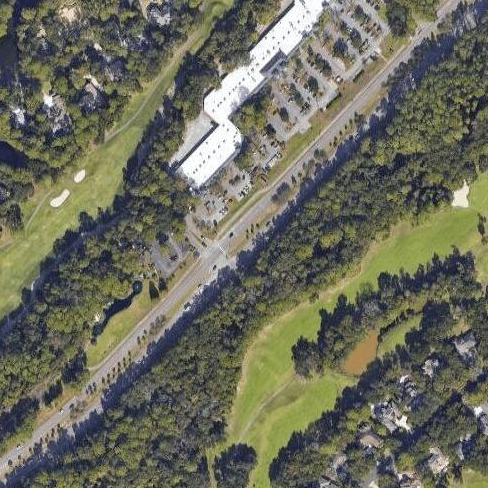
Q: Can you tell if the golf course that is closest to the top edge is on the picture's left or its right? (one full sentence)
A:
The golf course that is closest to the top edge appears in the left half of the scene.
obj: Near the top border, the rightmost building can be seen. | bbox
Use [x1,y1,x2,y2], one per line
[180,0,333,190]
